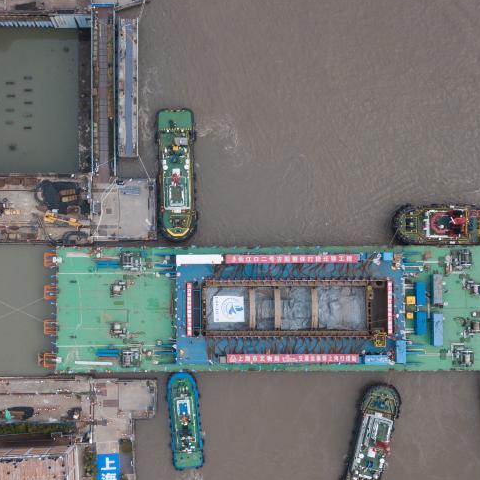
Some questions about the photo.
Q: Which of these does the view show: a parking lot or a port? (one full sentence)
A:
The area seen from above is a port.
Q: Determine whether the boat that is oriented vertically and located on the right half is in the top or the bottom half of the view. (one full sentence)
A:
You can find the boat that is oriented vertically and located on the right half in the bottom half.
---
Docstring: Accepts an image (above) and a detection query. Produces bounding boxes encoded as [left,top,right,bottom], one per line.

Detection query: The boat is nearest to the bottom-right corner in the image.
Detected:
[342,384,403,480]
